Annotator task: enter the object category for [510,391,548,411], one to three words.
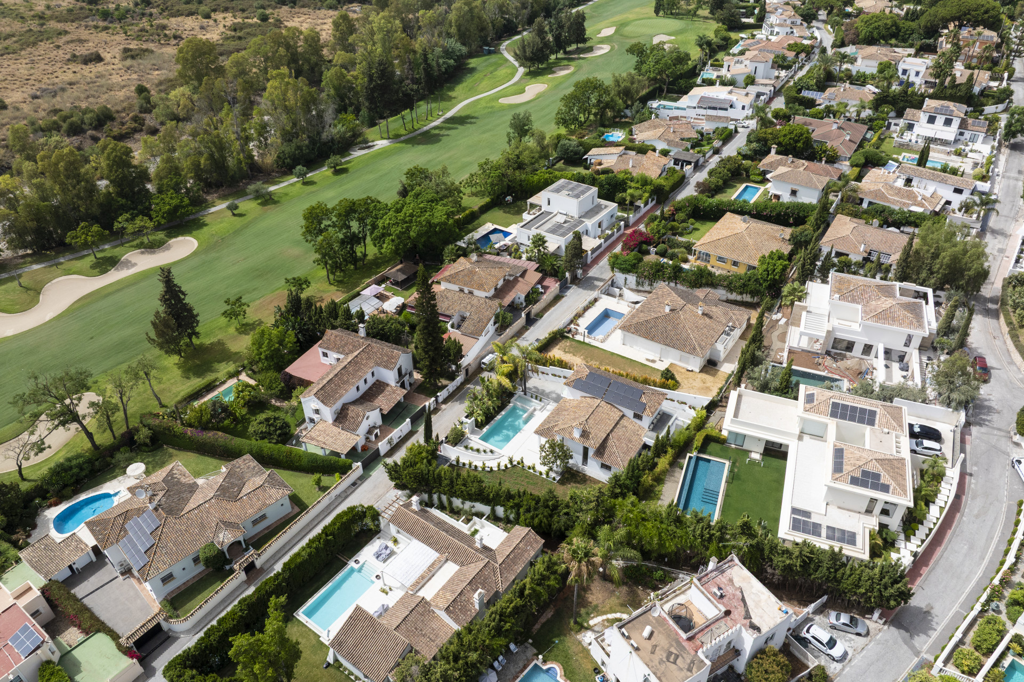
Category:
swimming pool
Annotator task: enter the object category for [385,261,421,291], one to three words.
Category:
gazebo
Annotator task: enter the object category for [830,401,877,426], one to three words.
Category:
solar array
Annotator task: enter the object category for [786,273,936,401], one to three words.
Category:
house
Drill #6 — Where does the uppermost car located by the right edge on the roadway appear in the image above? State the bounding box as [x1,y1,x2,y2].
[971,355,992,381]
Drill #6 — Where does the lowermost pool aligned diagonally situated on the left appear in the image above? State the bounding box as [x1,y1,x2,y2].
[294,553,384,636]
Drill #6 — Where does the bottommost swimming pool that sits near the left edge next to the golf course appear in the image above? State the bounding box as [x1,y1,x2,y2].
[47,485,131,538]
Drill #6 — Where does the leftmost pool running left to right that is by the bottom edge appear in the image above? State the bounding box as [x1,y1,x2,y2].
[511,656,567,682]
